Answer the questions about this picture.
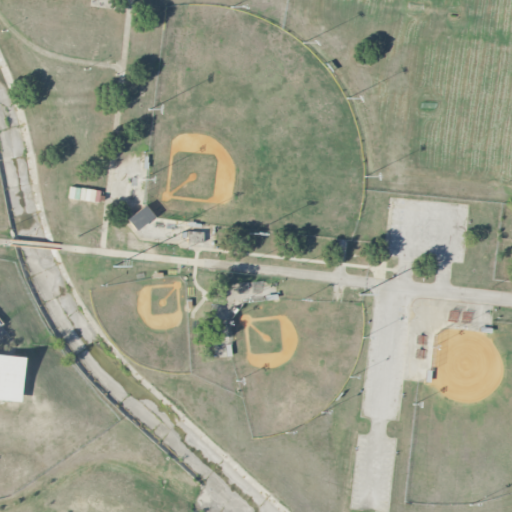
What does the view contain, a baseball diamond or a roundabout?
baseball diamond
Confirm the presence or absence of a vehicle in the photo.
No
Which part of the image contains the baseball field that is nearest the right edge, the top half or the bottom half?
bottom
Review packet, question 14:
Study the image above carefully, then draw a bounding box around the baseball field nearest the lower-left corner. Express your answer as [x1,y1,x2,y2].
[90,276,190,374]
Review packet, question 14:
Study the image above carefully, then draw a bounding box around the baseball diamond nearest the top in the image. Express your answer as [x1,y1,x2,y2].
[152,4,366,237]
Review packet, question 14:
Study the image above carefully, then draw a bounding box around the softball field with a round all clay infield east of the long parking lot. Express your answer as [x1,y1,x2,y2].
[407,329,512,504]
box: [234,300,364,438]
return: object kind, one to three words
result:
baseball field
